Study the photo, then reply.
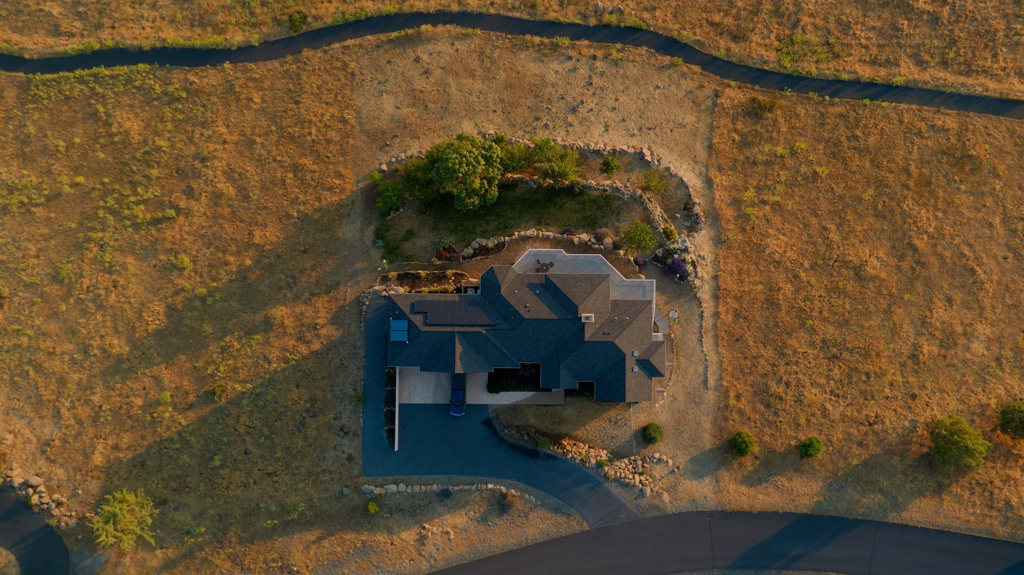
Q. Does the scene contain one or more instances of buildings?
Yes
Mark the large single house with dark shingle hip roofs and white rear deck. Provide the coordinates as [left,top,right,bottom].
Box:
[387,264,666,404]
